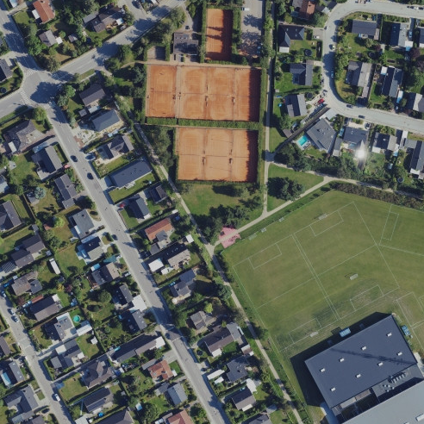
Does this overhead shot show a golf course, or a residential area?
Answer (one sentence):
What you see here is a residential area.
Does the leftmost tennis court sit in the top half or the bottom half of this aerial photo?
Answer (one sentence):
The top half of the photo is where the leftmost tennis court is.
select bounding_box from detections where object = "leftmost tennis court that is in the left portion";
[145,66,177,117]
